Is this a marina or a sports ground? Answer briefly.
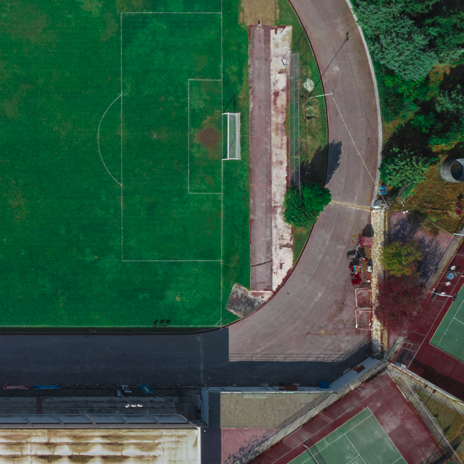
sports ground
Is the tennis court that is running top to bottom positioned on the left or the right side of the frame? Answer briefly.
right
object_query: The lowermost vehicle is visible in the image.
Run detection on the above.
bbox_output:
[350,261,368,284]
